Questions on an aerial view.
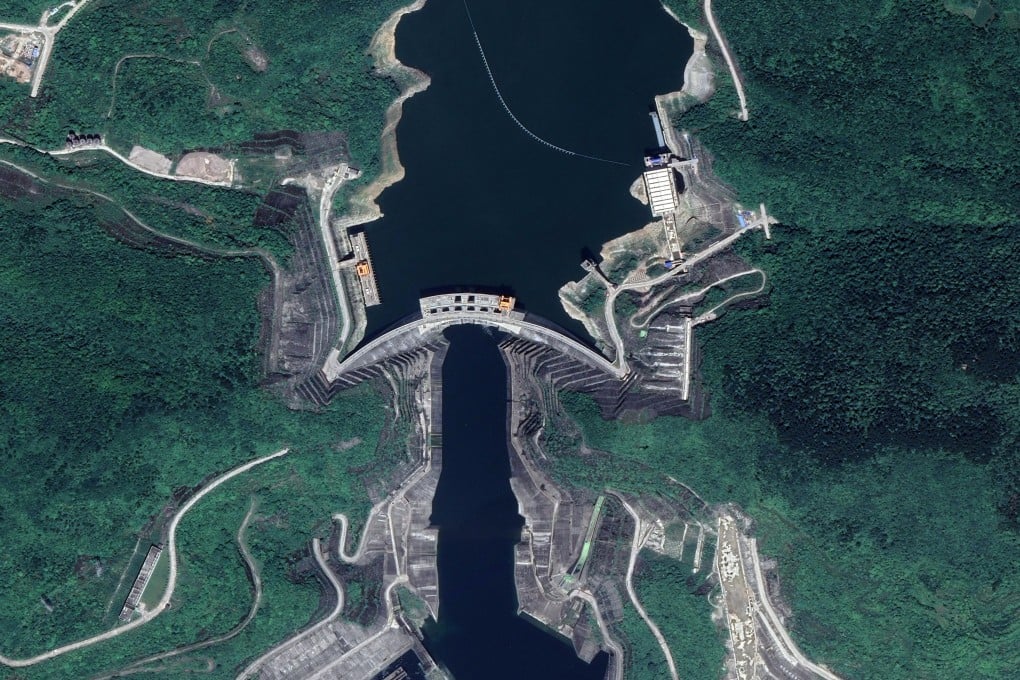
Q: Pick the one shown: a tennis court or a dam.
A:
dam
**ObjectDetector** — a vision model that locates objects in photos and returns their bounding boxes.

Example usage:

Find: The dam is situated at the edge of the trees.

[325,293,631,382]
